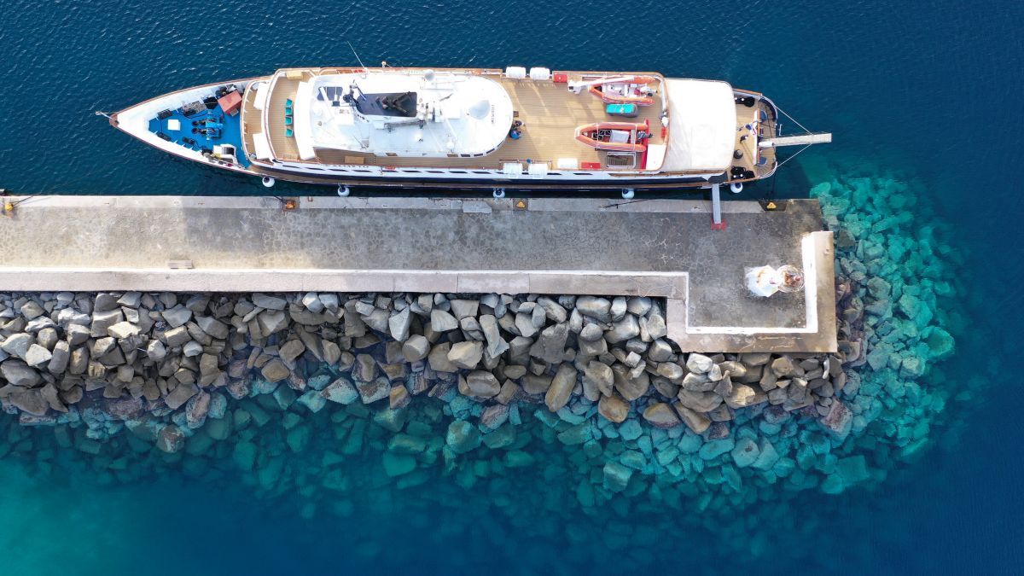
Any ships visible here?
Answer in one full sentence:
Yes, the picture does show a ship.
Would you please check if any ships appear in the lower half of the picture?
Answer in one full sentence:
No, no ship is visible in the lower half of the picture.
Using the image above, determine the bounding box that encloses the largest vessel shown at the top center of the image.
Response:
[95,48,832,191]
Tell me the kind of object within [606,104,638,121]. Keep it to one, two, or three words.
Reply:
boat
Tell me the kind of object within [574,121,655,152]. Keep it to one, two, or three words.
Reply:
boat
